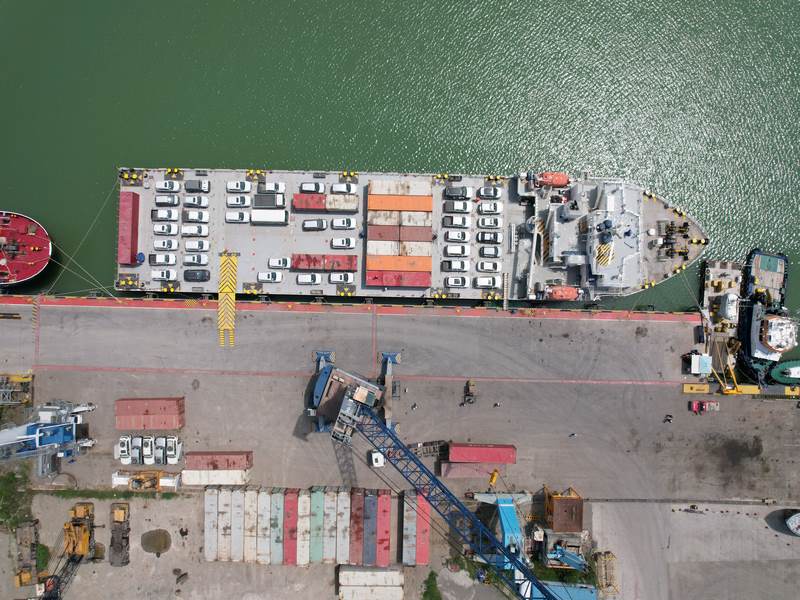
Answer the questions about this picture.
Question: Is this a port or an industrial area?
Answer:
port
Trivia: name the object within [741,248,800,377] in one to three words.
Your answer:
boat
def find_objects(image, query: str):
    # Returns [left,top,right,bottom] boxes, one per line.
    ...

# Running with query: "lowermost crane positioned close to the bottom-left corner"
[17,501,109,600]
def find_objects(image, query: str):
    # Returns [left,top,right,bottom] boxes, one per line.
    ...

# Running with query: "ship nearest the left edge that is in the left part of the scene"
[0,212,61,283]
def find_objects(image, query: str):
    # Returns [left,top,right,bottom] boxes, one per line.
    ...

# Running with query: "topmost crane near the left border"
[0,399,101,477]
